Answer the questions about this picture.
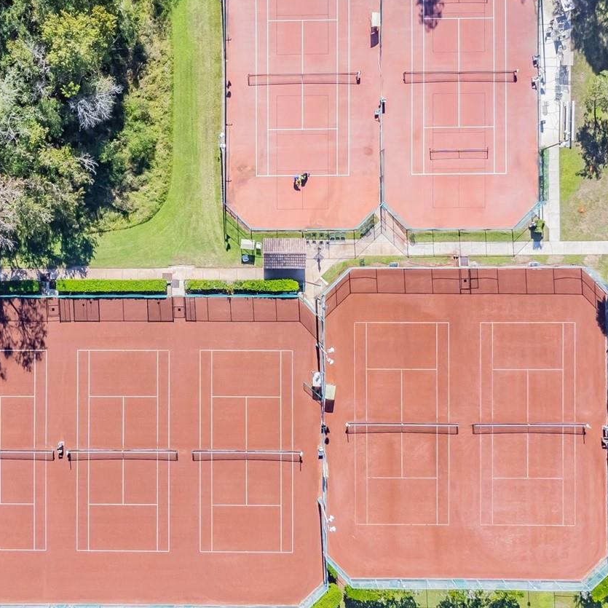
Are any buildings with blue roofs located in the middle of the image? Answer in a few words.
No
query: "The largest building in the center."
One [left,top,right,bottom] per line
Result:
[263,238,306,270]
